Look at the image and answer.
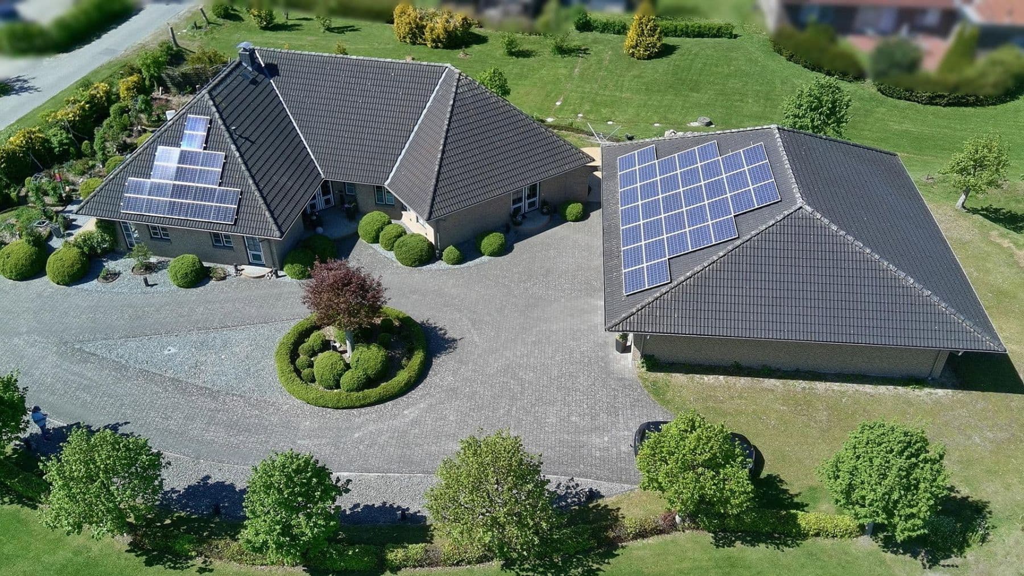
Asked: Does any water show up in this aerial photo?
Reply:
No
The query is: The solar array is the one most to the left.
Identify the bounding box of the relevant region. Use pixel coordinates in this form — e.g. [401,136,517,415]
[120,115,242,224]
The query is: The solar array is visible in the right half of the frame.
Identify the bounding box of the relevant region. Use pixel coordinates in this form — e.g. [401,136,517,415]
[618,141,780,295]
